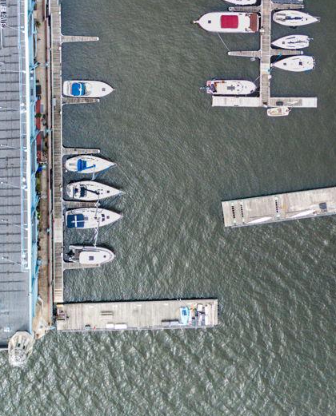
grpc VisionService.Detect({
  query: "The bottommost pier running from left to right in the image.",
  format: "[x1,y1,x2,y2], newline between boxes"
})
[56,297,218,332]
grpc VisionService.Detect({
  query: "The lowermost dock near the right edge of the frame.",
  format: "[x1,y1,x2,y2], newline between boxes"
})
[221,186,336,228]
